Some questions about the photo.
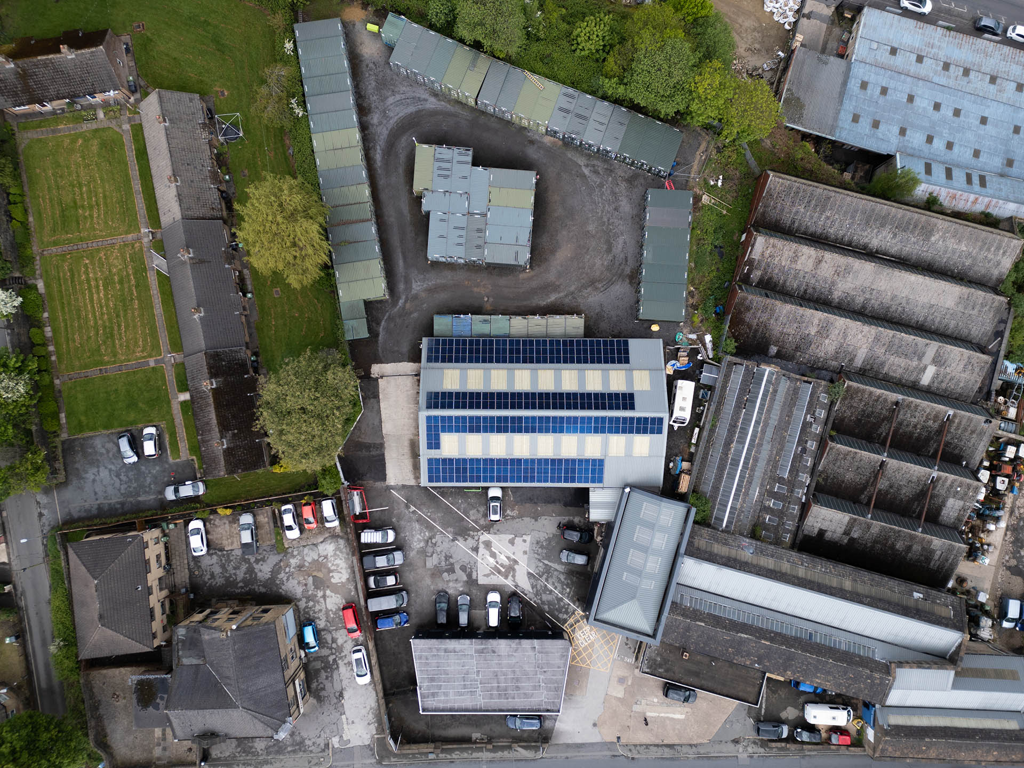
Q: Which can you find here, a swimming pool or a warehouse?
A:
warehouse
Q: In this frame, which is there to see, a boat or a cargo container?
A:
cargo container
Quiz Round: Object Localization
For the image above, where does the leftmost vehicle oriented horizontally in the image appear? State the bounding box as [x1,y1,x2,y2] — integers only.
[166,480,207,498]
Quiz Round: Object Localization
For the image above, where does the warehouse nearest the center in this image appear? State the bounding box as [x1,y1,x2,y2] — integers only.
[418,337,670,487]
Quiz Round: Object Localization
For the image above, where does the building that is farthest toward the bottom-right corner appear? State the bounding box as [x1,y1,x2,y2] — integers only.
[859,648,1024,765]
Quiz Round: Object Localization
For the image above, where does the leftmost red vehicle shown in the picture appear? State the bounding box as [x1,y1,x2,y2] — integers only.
[300,501,319,530]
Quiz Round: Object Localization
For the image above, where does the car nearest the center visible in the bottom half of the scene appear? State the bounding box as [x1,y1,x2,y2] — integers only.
[487,487,503,523]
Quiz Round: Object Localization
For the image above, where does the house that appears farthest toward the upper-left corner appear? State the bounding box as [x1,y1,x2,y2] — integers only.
[0,29,133,121]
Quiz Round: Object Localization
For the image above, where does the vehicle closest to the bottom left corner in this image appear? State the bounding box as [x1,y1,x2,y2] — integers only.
[188,518,209,557]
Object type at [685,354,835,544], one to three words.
building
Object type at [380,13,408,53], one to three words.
shipping container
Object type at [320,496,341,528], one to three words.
car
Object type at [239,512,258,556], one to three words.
vehicle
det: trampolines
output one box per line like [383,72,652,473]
[224,125,241,142]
